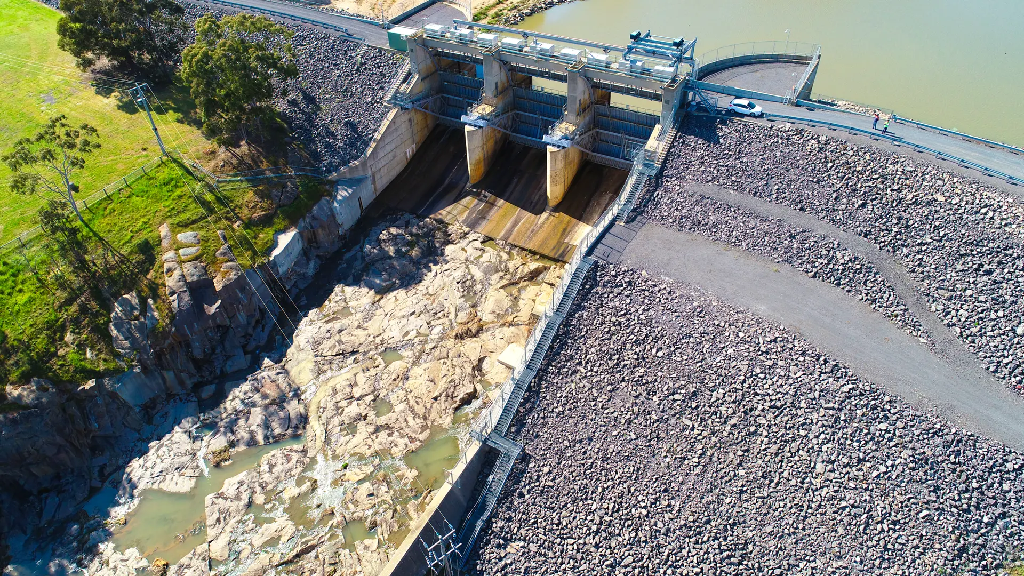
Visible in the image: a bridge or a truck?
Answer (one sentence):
Visible in the photo is a bridge.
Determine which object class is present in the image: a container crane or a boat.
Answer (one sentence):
Of the two, only a container crane appears.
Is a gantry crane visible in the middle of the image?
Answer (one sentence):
No, no gantry crane appears in the middle of the image.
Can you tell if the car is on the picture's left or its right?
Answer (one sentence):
It is on the right.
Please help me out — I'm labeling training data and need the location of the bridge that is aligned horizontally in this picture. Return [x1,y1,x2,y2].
[403,15,695,105]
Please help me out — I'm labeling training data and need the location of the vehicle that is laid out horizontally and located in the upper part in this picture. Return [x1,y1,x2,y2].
[725,97,763,117]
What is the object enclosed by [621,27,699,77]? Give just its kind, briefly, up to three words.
container crane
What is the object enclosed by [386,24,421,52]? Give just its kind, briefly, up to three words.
shed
